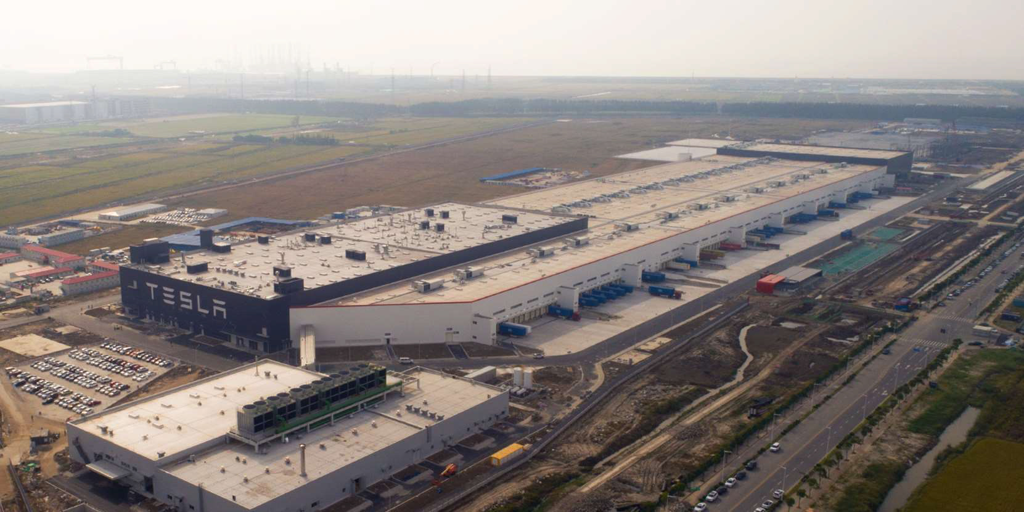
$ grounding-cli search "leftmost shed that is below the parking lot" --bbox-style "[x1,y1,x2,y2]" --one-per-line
[27,424,54,442]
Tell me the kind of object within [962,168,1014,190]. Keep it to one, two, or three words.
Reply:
building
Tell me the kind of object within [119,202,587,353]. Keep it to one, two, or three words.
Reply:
building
